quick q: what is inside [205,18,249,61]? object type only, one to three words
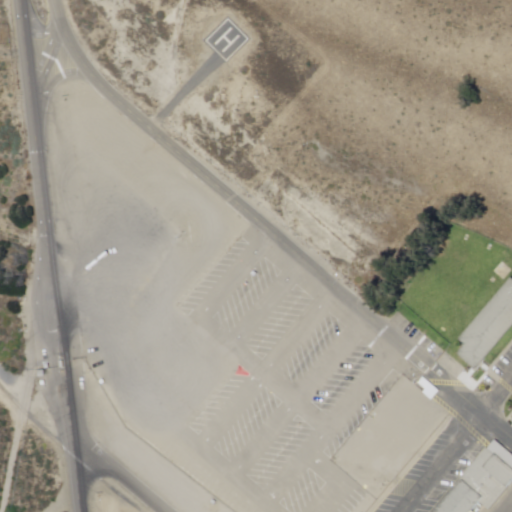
helipad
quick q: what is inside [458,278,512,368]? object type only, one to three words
building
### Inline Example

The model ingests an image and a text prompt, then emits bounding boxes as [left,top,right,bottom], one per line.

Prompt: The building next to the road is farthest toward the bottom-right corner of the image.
[434,440,512,512]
